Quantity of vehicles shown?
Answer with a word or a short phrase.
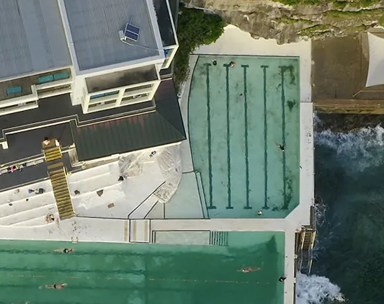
0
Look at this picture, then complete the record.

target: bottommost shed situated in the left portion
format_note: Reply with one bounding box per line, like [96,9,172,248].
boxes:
[71,79,186,169]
